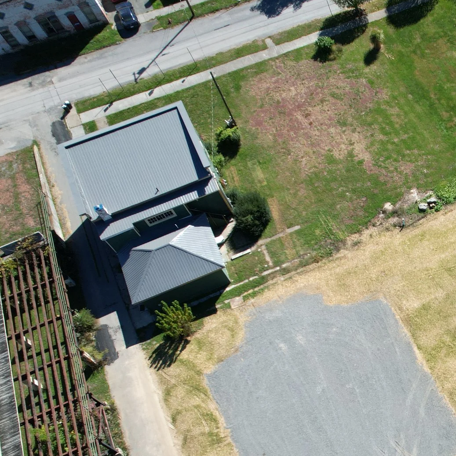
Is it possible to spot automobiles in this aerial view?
Yes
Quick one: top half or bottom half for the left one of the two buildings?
top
